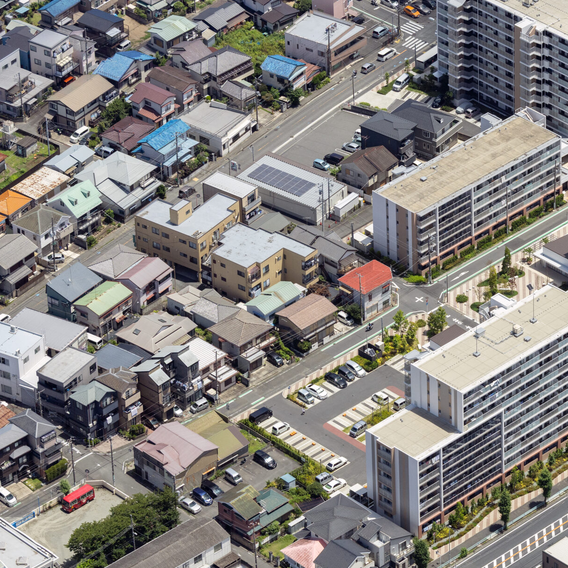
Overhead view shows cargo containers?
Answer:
Yes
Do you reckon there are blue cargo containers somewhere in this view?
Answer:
No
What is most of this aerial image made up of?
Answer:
buildings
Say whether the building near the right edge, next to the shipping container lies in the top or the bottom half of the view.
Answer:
top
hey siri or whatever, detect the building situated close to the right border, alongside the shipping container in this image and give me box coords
[362,114,560,274]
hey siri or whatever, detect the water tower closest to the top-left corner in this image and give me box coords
[0,118,20,152]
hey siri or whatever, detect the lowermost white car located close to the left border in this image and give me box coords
[0,489,19,506]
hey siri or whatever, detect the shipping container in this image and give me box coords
[332,191,360,223]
